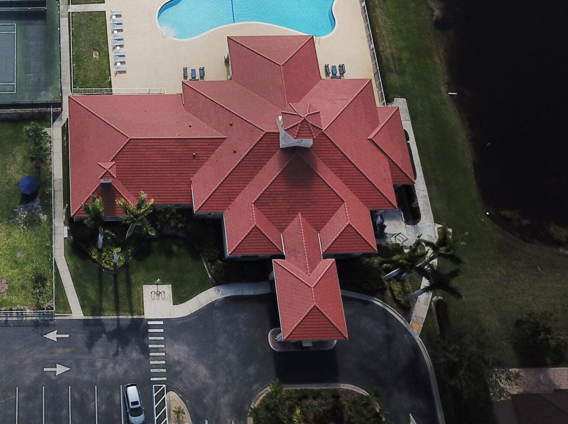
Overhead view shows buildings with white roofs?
No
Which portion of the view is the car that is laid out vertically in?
bottom left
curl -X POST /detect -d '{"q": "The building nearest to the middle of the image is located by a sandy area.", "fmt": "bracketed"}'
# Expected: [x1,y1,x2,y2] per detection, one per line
[68,34,416,343]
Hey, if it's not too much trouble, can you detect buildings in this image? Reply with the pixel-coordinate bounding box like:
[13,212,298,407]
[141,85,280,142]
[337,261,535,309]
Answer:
[488,375,568,424]
[68,34,416,343]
